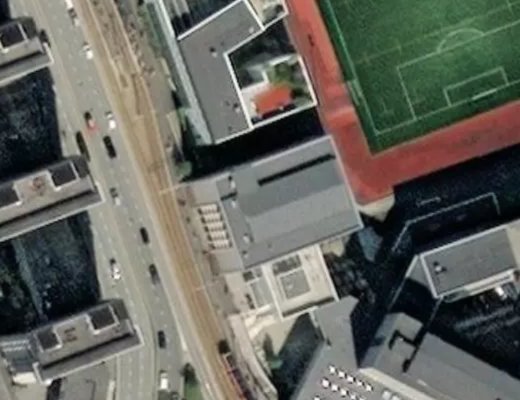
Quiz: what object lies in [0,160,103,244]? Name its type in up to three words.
building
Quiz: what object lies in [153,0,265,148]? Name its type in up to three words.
building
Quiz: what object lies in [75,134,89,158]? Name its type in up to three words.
vehicle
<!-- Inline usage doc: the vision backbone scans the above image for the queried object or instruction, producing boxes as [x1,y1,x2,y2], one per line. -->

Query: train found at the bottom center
[221,353,249,400]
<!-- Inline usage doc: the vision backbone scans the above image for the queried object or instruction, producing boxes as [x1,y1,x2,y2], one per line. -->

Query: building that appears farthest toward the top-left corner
[0,19,53,84]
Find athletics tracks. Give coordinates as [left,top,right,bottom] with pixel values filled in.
[287,0,520,201]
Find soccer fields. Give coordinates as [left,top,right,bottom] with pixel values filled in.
[319,0,520,155]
